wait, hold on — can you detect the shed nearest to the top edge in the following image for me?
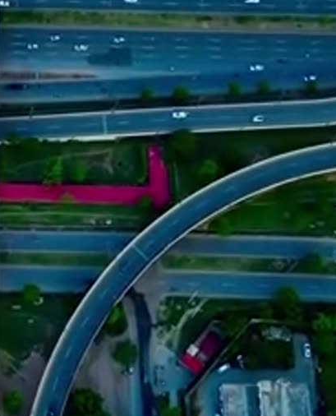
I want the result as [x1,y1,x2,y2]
[178,330,220,376]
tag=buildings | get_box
[217,380,249,416]
[178,330,220,376]
[252,377,312,416]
